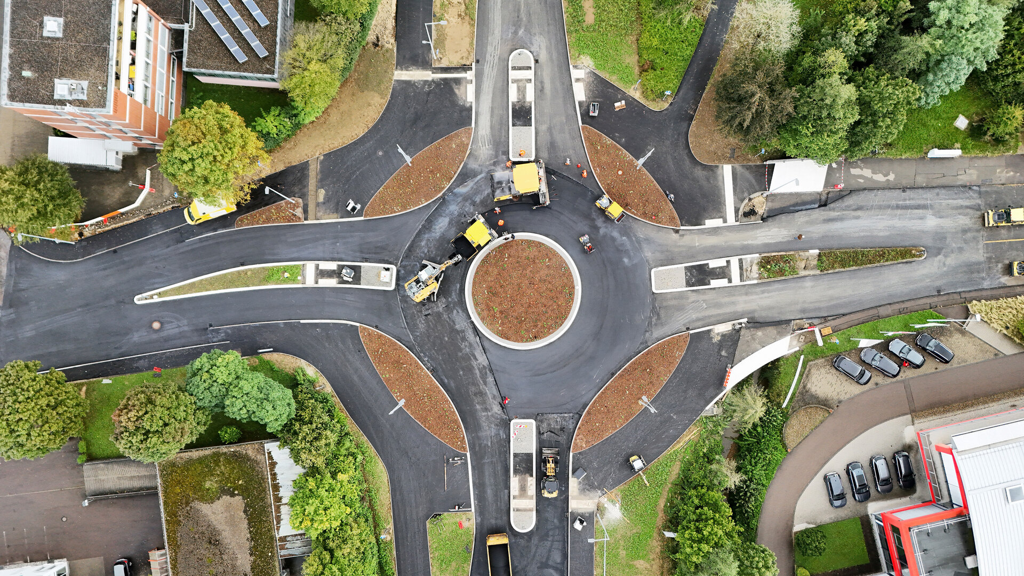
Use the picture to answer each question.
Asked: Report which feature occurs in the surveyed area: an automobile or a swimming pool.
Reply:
automobile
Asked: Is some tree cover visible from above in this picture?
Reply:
Yes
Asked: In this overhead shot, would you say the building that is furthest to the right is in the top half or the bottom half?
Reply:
bottom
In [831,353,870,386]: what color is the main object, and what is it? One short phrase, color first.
gray car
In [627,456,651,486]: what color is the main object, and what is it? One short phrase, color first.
white work vehicle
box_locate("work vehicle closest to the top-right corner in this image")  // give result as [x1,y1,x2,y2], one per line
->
[988,204,1024,226]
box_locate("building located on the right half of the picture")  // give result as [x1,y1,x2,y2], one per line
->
[864,407,1024,576]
